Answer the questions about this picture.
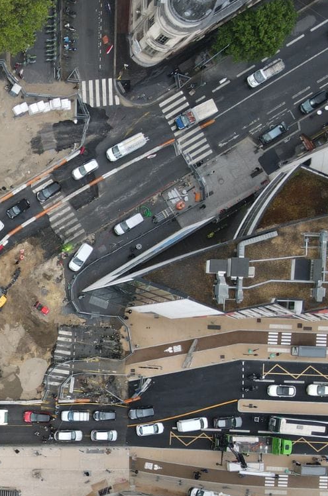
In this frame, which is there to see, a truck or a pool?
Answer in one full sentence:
The image shows a truck.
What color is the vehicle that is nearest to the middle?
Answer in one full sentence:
The vehicle that is nearest to the middle is white.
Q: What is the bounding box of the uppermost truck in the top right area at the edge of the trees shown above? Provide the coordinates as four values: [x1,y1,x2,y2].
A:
[244,57,288,90]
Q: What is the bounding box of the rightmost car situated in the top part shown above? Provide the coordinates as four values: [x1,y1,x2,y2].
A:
[297,89,328,115]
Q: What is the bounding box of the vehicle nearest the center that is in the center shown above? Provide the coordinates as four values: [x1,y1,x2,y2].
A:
[112,211,148,237]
